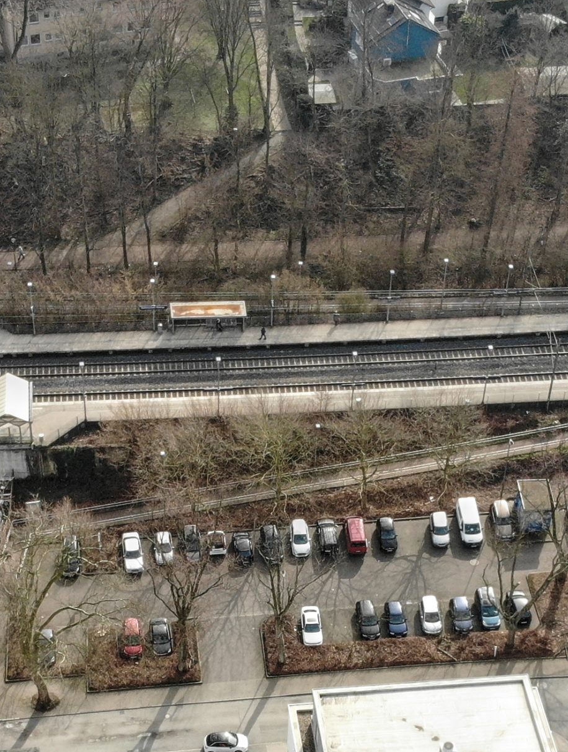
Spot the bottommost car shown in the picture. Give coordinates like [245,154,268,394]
[201,730,248,752]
